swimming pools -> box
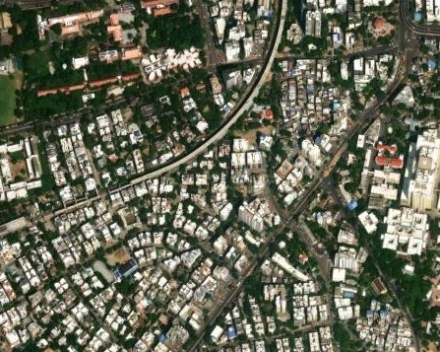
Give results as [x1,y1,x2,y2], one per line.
[335,284,357,297]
